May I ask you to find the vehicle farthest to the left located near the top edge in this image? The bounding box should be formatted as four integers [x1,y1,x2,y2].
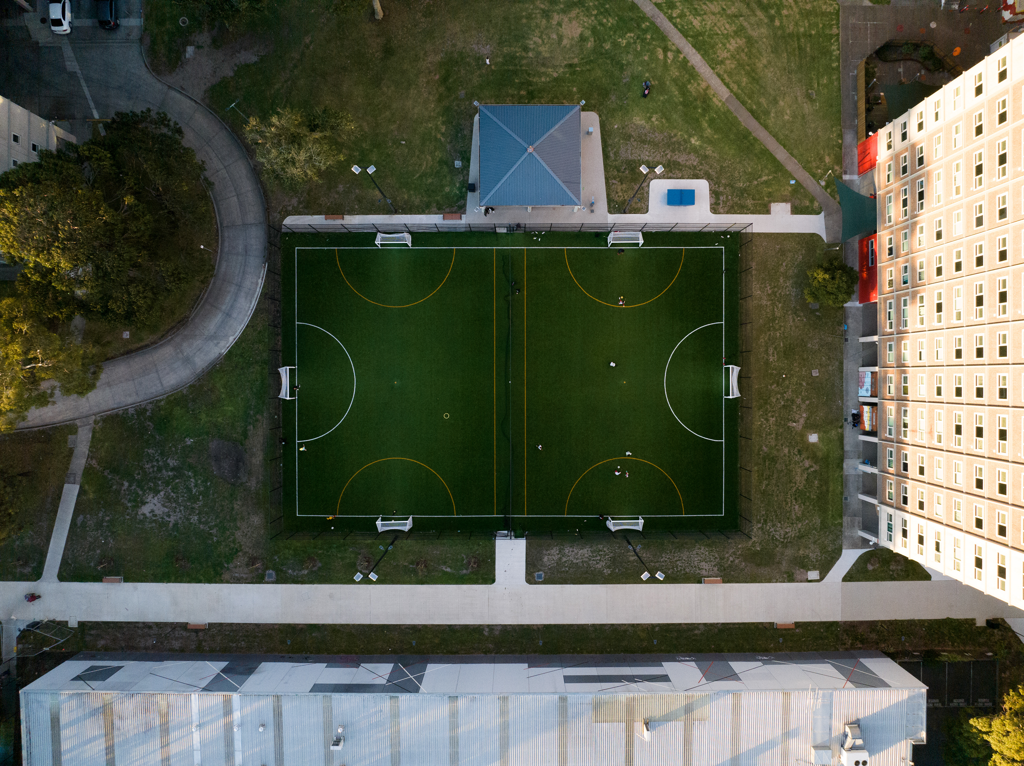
[48,0,73,32]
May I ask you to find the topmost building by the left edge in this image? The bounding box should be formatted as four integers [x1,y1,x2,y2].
[0,92,88,202]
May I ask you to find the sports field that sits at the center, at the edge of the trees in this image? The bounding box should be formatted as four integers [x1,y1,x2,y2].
[281,232,740,532]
